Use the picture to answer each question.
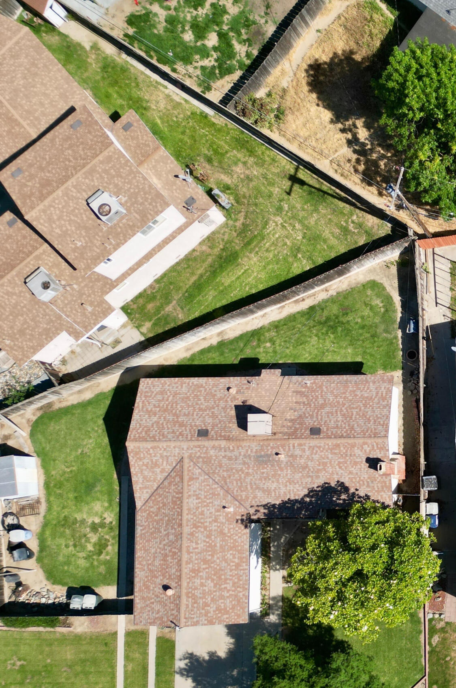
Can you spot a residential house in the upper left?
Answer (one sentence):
Yes, a residential house shows up in the upper left.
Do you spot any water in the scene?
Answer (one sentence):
No, there is no water in the image.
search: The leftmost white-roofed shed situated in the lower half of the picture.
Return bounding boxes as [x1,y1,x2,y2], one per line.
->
[0,456,59,497]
